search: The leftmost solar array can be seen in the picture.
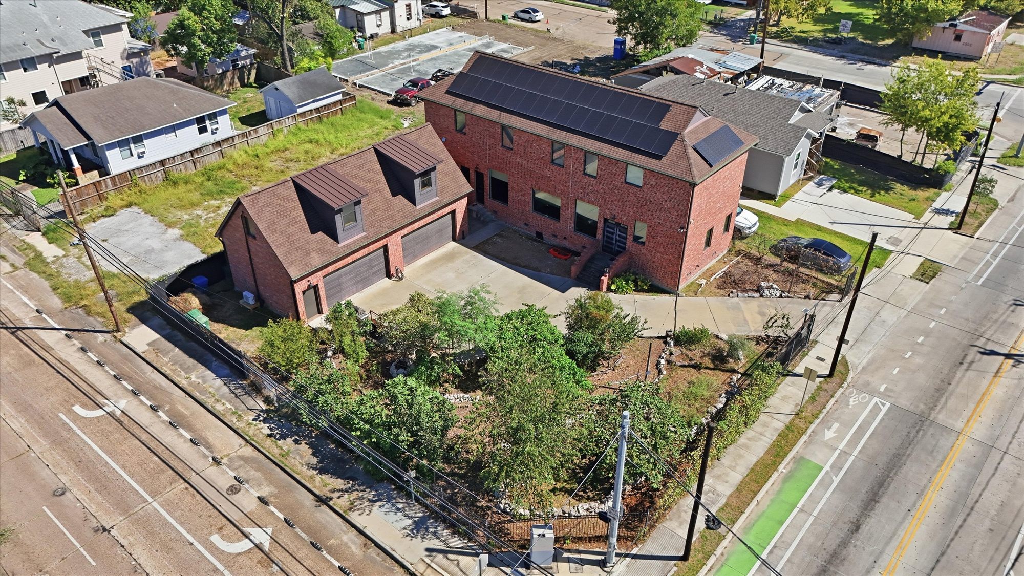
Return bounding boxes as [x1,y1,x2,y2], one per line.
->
[446,55,678,157]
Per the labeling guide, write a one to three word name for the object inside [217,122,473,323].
building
